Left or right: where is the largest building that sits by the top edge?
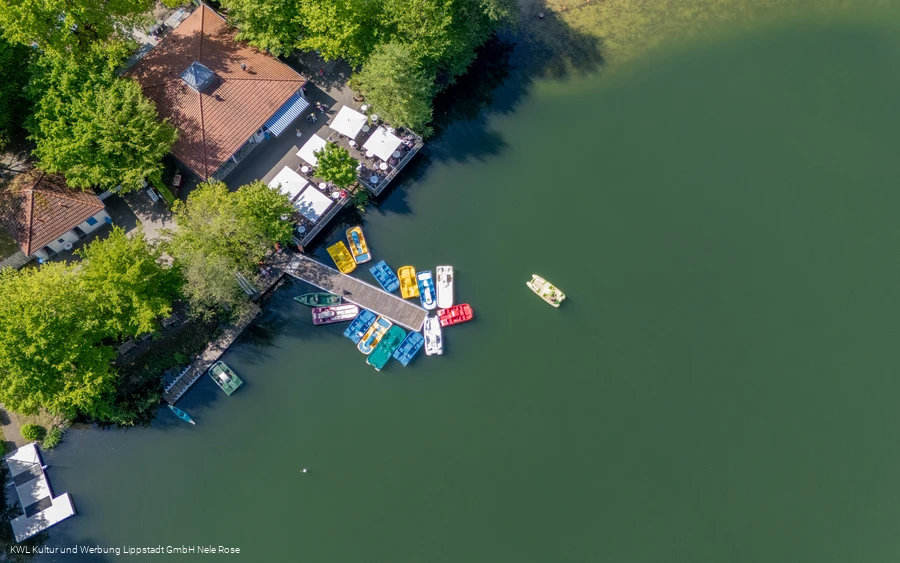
left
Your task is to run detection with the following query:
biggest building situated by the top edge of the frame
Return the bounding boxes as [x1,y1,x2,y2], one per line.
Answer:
[111,8,315,185]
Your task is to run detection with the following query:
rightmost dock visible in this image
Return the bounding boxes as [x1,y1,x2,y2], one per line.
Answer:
[287,253,428,331]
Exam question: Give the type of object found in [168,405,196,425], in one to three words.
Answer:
boat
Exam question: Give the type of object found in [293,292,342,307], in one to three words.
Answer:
boat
